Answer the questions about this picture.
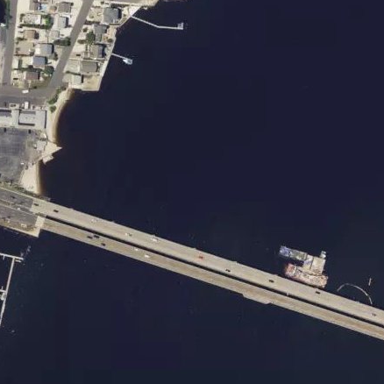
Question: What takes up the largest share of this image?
water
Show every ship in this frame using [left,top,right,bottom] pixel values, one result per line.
[279,245,307,261]
[311,257,325,275]
[285,263,328,287]
[302,255,313,270]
